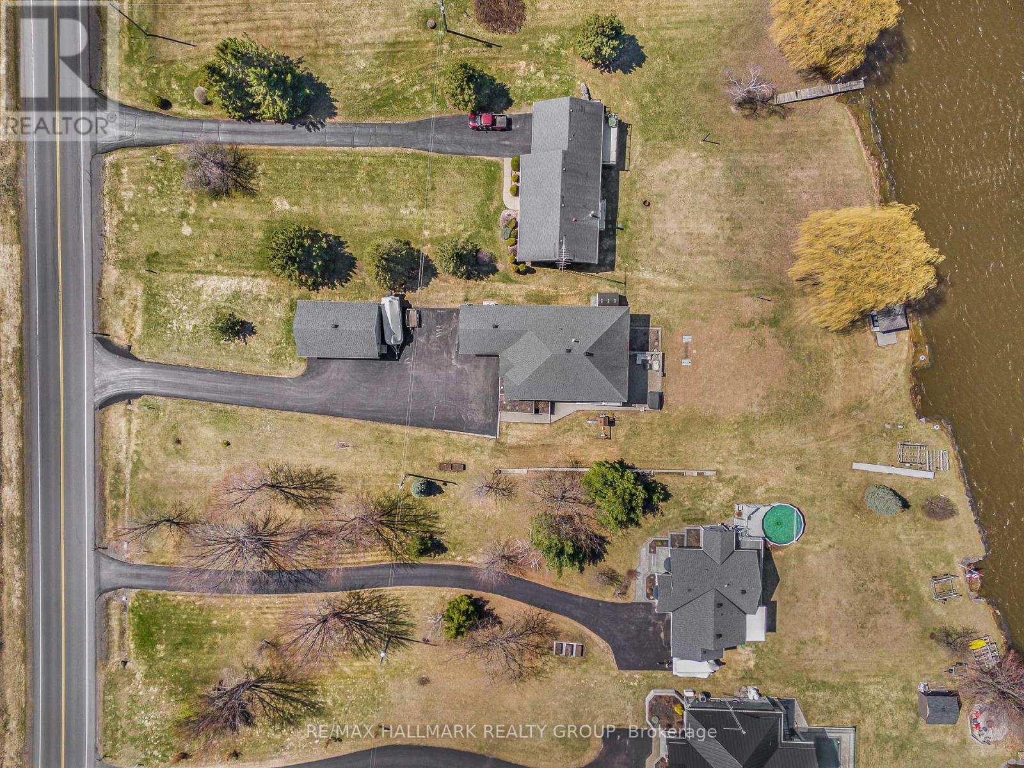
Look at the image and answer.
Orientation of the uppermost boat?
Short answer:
up and down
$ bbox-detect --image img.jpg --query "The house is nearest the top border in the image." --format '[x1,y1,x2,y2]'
[517,97,604,264]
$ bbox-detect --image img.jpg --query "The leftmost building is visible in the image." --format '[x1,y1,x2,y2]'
[293,300,382,359]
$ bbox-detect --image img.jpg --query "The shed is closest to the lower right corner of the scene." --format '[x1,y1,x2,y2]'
[919,689,960,724]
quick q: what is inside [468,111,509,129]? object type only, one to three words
vehicle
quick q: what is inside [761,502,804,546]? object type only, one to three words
swimming pool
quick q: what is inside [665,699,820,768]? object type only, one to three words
house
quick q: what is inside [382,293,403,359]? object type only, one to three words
boat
